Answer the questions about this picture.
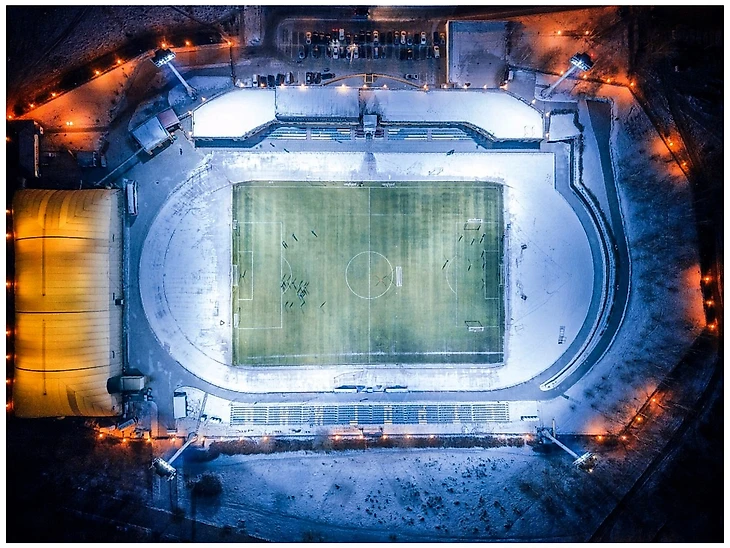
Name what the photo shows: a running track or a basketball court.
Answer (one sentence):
Of the two, only a running track appears.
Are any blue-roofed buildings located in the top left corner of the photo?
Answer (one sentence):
Yes, looking in the top left corner of the photo, one can make out a blue-roofed building.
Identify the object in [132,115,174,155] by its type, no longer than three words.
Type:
building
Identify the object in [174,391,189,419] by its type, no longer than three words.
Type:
building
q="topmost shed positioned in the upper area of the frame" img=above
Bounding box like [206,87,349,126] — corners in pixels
[452,21,507,34]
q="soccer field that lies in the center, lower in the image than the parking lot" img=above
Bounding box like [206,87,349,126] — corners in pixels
[233,180,504,364]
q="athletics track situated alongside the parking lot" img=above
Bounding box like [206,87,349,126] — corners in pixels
[140,152,595,393]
